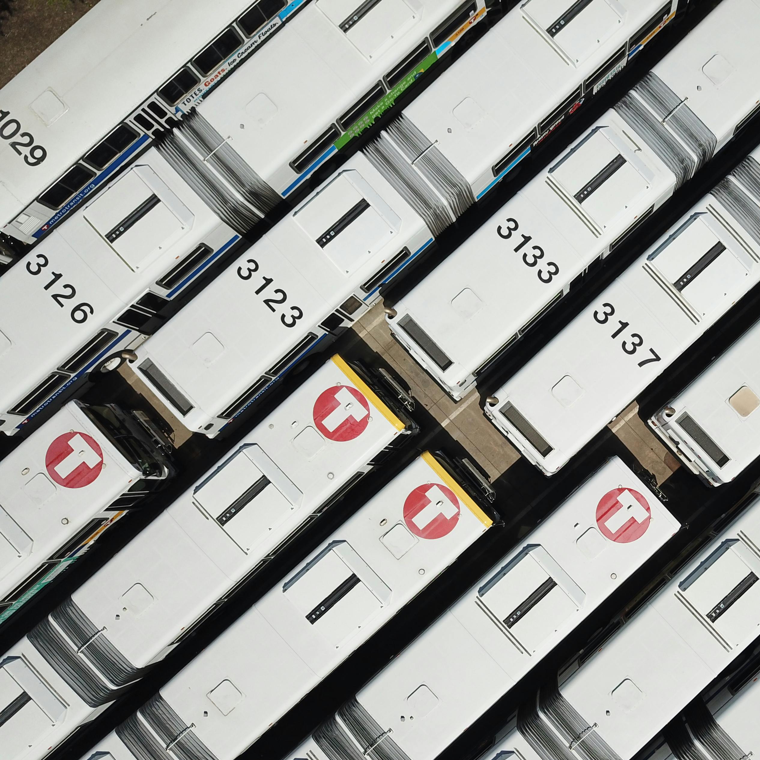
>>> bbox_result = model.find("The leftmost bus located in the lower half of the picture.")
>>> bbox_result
[0,389,186,631]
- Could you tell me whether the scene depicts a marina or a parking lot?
parking lot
